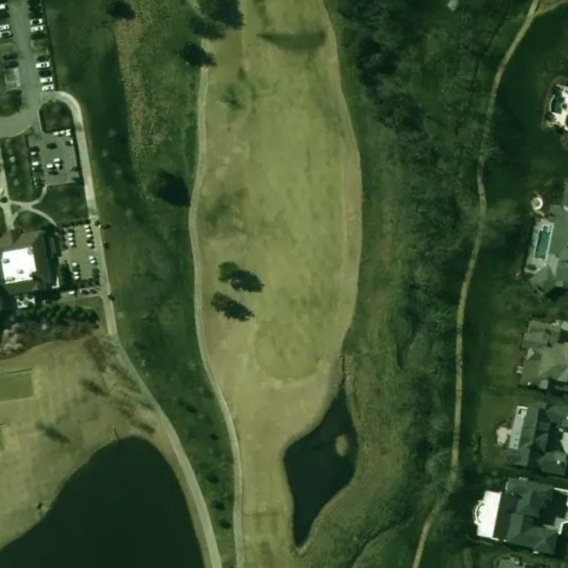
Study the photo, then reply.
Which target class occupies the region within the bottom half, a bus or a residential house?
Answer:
residential house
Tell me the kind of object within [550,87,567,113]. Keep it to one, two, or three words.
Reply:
swimming pool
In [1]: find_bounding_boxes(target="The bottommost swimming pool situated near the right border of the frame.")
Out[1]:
[535,226,551,259]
